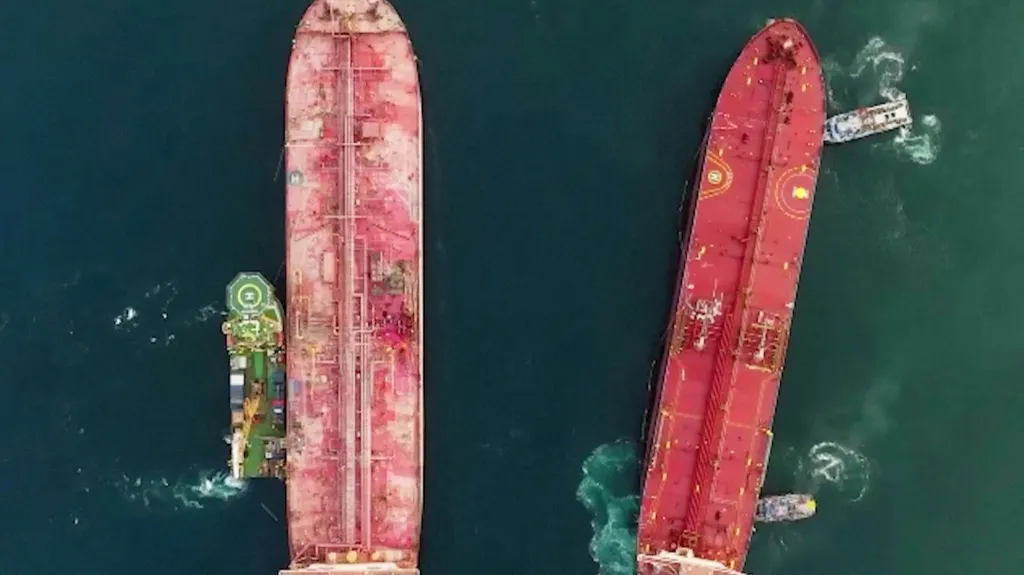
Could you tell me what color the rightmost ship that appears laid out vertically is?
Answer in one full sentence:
The rightmost ship that appears laid out vertically looks red in the image.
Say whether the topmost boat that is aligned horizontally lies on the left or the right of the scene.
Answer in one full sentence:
The topmost boat that is aligned horizontally appears in the right half of the scene.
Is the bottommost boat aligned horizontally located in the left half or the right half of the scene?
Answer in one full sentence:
It is on the right.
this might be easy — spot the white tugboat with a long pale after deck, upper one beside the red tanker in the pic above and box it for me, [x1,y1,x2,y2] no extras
[823,99,910,142]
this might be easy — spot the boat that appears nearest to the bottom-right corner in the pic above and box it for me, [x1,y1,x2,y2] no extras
[755,493,818,524]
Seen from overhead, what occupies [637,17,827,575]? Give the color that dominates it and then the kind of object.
red ship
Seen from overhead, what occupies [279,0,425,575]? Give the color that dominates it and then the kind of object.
pink ship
